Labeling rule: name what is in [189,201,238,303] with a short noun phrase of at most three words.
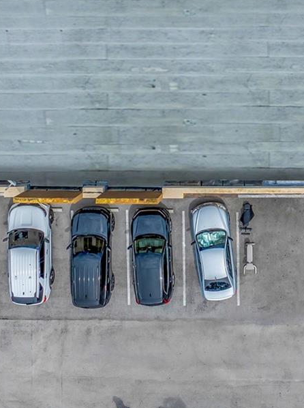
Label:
car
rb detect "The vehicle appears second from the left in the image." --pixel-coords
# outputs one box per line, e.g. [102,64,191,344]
[63,205,115,309]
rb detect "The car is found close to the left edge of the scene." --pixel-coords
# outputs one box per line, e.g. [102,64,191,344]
[1,206,57,306]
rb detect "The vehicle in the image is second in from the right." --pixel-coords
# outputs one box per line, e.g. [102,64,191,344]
[125,207,174,307]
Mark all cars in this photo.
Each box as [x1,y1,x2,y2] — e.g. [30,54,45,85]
[63,205,115,309]
[1,206,57,306]
[125,207,174,307]
[189,201,238,303]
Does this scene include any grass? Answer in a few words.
No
